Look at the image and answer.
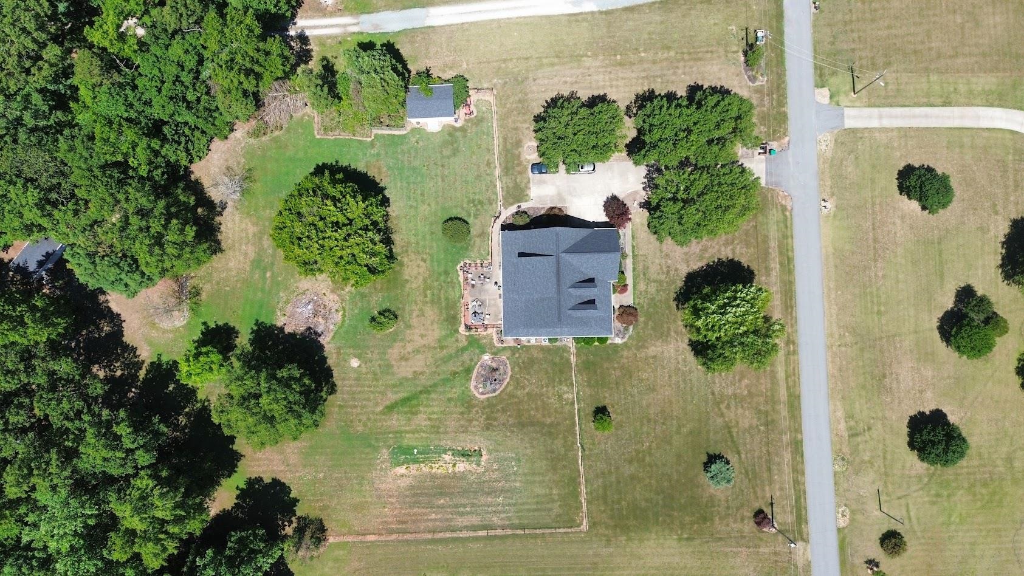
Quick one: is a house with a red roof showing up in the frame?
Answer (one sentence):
No, I can't see a single house with a red roof in this photo.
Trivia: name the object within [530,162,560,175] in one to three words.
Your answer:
vehicle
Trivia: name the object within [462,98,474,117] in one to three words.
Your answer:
vehicle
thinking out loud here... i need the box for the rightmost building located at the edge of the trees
[500,227,620,339]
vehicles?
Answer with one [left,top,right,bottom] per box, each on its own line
[530,162,560,175]
[462,98,474,117]
[568,163,596,175]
